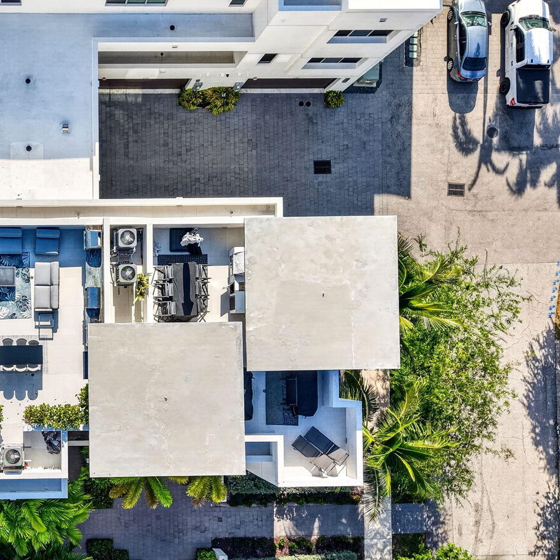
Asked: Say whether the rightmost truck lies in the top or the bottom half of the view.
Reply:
top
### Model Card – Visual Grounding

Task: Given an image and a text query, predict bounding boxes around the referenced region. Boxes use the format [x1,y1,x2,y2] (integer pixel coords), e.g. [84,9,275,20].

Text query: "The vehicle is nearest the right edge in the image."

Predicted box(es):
[501,0,556,108]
